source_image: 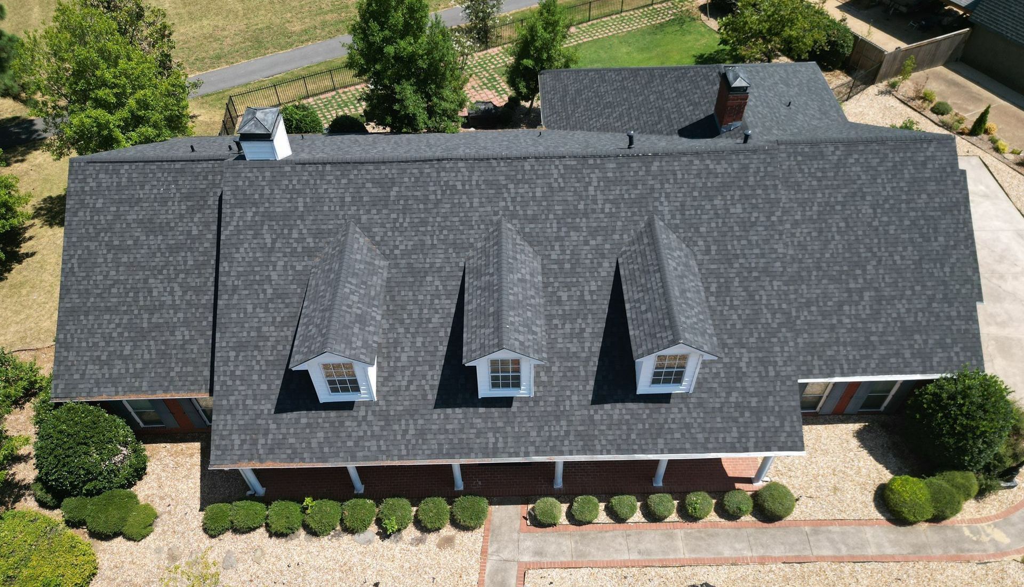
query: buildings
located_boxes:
[50,62,987,509]
[954,0,1024,93]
